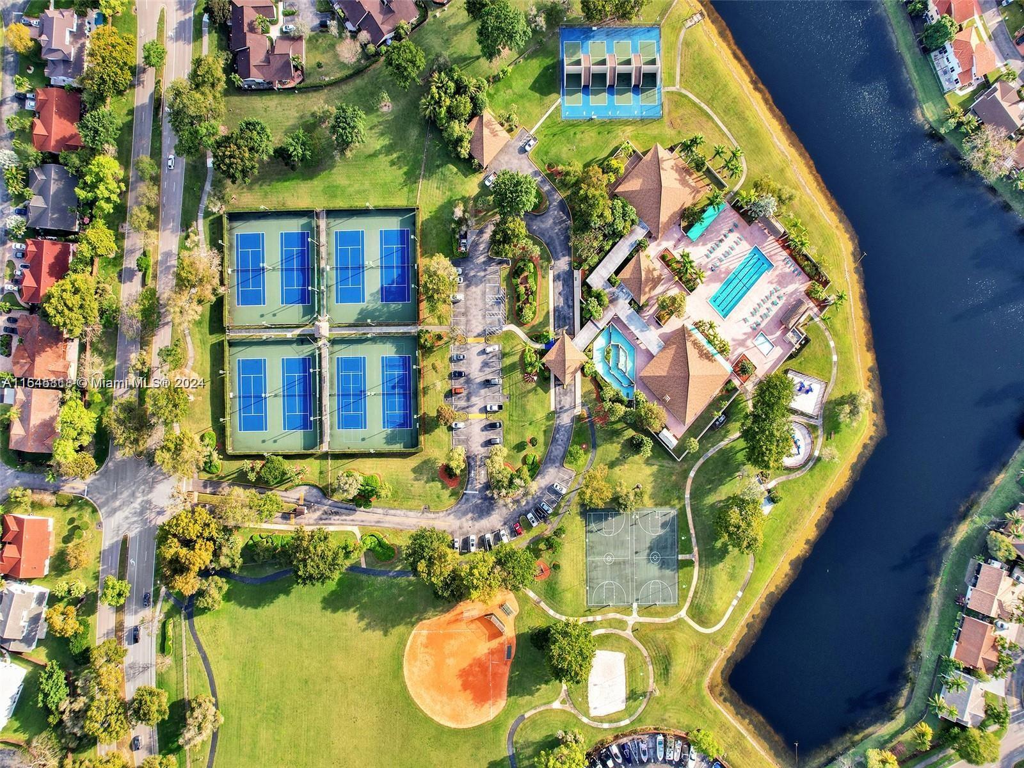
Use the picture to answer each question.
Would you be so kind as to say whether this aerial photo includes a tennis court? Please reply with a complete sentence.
Yes, a tennis court is visible in the scene.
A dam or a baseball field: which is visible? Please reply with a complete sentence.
Visible in the photo is a baseball field.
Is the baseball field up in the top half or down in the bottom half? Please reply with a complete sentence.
You can find the baseball field in the bottom half.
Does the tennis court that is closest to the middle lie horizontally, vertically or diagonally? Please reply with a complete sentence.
In this picture, the tennis court that is closest to the middle is oriented vertically.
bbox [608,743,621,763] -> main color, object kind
white boat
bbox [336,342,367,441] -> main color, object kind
blue tennis court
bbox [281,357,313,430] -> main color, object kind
blue tennis court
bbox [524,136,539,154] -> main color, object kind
white vehicle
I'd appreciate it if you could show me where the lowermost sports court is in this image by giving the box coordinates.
[588,650,627,717]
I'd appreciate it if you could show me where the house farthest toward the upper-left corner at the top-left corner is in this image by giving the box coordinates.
[31,8,89,80]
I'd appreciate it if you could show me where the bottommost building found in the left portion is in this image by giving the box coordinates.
[0,649,36,735]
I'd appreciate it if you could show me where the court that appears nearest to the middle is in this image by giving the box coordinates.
[381,348,415,440]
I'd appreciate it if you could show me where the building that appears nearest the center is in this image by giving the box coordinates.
[543,333,588,385]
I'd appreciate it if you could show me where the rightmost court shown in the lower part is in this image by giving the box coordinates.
[634,511,677,604]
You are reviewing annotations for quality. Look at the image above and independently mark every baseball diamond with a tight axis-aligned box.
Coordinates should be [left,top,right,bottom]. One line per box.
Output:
[403,590,519,728]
